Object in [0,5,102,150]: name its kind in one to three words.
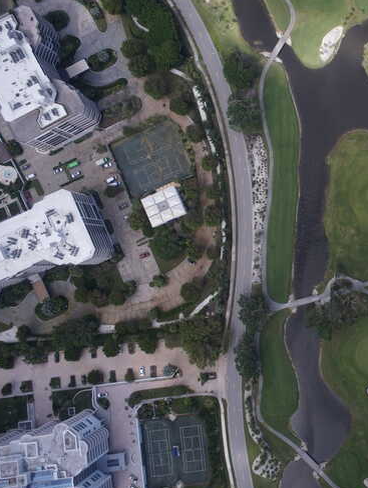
building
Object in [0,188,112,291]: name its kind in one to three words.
building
